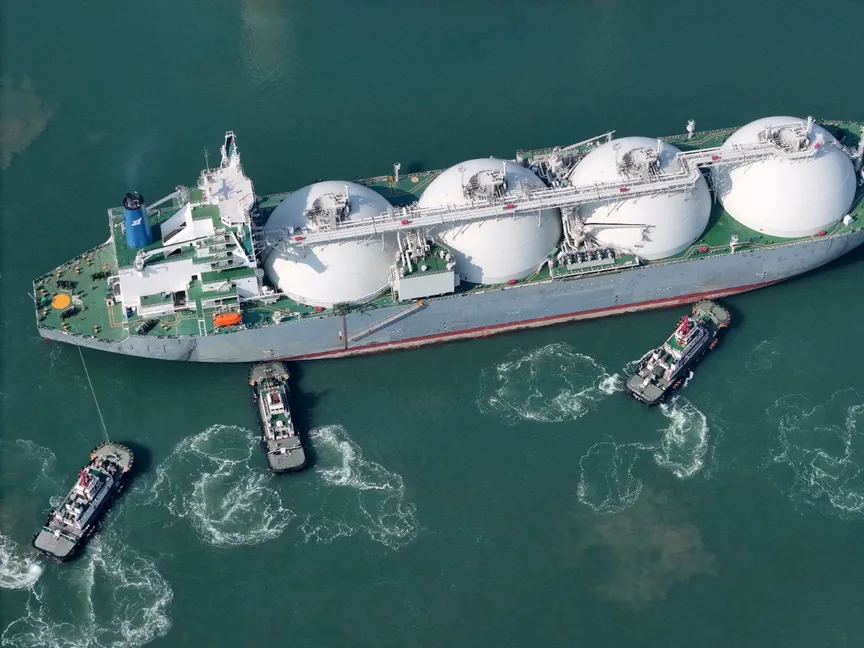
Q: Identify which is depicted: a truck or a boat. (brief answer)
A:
boat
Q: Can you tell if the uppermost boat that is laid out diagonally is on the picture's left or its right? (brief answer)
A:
right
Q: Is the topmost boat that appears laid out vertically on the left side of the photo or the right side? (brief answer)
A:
left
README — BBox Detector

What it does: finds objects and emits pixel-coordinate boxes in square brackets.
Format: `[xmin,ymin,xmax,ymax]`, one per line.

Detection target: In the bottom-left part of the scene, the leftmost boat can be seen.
[36,438,127,568]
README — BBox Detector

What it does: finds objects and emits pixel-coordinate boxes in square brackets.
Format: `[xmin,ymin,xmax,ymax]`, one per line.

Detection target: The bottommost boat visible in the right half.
[629,300,730,410]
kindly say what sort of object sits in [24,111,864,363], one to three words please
ship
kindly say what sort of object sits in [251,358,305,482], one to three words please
boat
